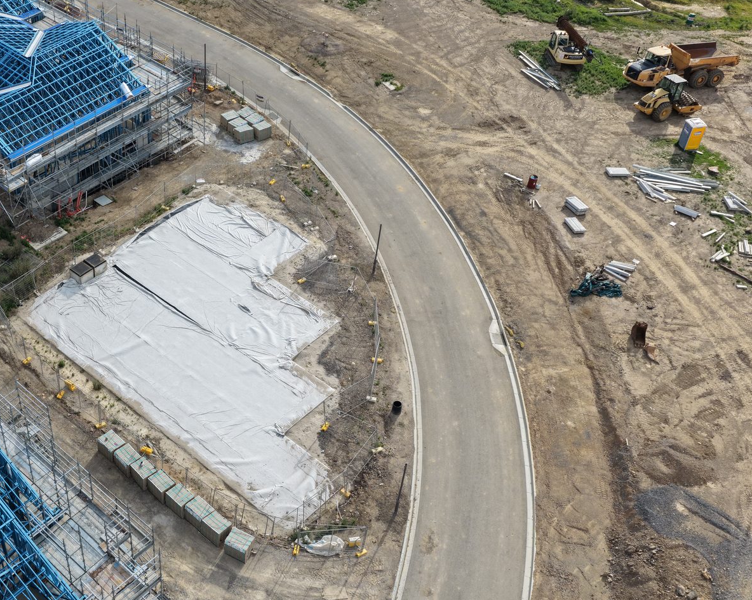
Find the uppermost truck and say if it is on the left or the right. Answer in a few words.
right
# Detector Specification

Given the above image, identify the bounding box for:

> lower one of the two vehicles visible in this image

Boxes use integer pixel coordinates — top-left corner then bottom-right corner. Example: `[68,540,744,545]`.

[633,77,712,123]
